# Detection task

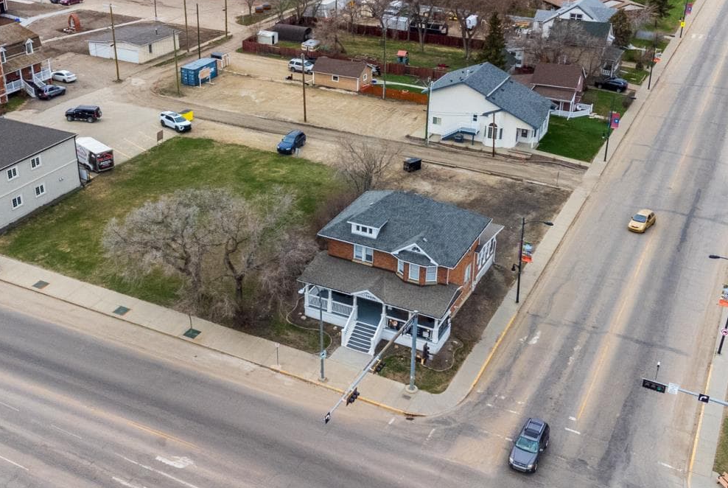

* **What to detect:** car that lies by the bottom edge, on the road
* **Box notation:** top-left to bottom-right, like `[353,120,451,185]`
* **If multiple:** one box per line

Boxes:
[510,409,559,472]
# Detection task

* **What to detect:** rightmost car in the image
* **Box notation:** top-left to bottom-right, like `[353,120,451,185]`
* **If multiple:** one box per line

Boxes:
[628,203,661,231]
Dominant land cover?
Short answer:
paved ground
